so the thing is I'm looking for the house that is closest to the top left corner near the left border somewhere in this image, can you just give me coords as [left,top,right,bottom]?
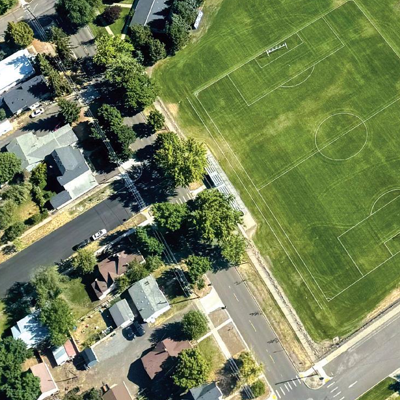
[0,49,37,98]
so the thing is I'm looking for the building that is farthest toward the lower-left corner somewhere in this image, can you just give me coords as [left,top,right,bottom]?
[32,358,60,400]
